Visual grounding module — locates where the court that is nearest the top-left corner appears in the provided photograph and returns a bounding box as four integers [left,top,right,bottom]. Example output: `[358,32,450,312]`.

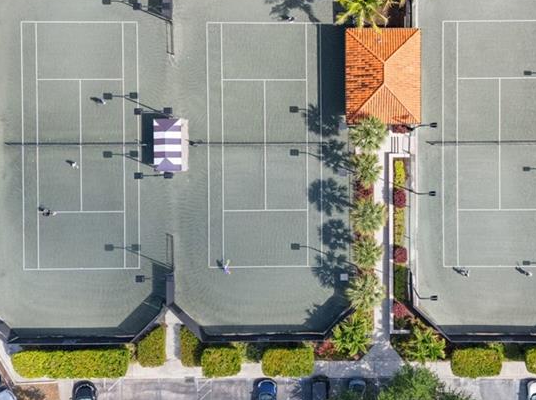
[7,18,149,273]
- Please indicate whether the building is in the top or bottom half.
top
